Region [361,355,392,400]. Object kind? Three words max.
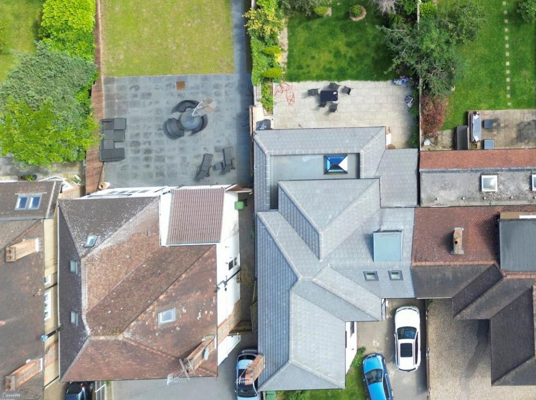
car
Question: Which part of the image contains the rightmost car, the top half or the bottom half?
bottom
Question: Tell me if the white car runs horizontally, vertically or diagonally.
vertically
